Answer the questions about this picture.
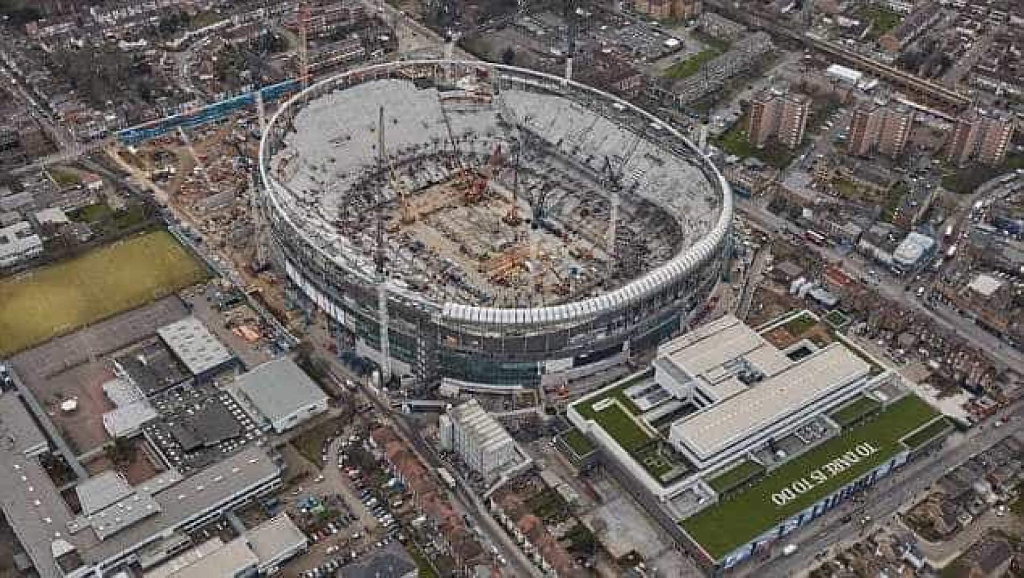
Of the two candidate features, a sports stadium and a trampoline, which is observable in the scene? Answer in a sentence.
There is a sports stadium in the scene.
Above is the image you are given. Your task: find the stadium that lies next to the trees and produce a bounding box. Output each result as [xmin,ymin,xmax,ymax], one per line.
[257,59,734,396]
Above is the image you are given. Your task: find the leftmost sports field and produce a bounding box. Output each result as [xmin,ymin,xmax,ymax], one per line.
[0,228,206,355]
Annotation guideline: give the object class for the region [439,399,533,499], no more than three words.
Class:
building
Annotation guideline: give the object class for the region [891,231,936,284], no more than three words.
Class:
building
